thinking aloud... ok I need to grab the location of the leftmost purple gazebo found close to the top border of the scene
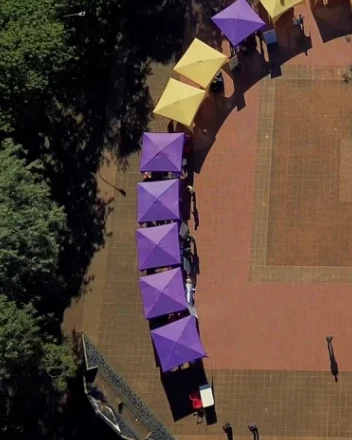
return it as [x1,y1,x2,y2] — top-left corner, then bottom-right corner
[211,0,267,55]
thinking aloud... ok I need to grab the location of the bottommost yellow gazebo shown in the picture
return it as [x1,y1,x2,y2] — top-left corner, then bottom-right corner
[152,77,211,137]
